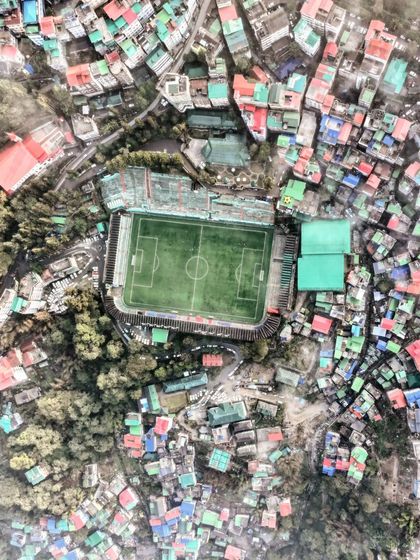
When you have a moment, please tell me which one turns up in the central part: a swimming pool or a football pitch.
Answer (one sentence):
What appears in the central part is a football pitch.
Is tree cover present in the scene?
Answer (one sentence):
Yes, tree cover shows up in the scene.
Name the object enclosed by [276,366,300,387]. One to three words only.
building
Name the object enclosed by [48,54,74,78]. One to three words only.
house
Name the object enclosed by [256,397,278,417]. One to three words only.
house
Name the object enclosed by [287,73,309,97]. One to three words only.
building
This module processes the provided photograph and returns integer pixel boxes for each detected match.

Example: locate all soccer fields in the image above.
[130,218,266,318]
